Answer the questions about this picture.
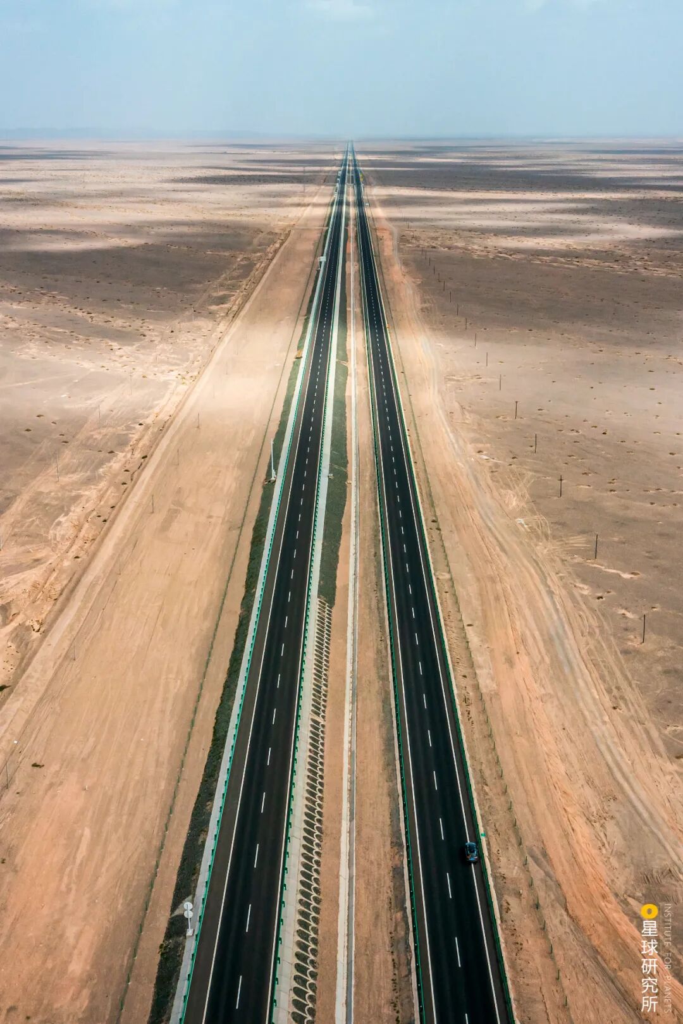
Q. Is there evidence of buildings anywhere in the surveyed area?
No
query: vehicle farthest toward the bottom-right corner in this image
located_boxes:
[462,841,478,863]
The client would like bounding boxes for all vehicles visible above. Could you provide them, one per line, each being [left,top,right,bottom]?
[462,841,478,863]
[296,351,306,359]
